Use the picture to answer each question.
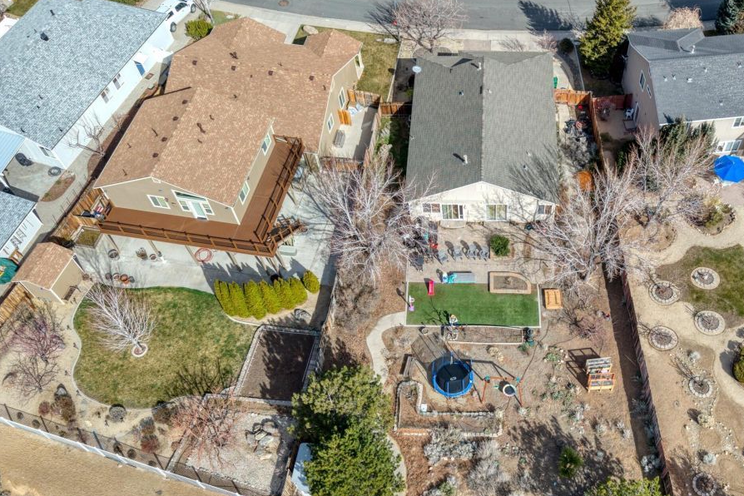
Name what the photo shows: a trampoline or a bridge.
trampoline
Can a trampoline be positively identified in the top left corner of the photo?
No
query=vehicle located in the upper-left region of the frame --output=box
[159,0,199,28]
